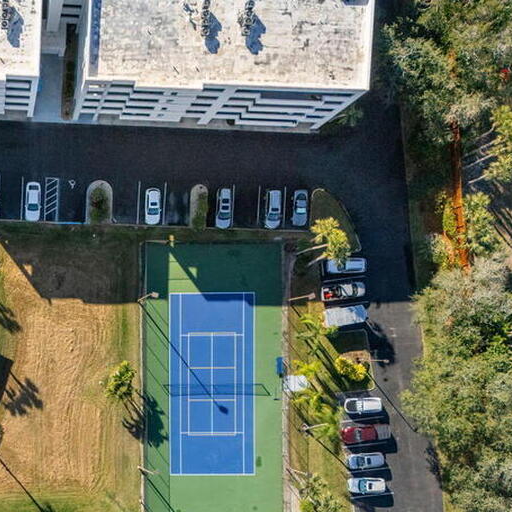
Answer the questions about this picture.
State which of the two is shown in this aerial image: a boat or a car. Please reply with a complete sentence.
The image shows a car.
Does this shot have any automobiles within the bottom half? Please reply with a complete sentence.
Yes, an automobile appears within the bottom half.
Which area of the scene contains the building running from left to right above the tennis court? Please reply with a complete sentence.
You can find the building running from left to right above the tennis court in the top area of the picture.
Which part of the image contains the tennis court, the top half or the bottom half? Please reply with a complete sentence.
The tennis court sits in the bottom half of the picture.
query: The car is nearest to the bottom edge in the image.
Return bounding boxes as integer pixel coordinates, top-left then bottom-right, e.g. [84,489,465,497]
[347,477,387,495]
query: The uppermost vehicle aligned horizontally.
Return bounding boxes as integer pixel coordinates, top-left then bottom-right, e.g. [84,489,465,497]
[325,258,366,274]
